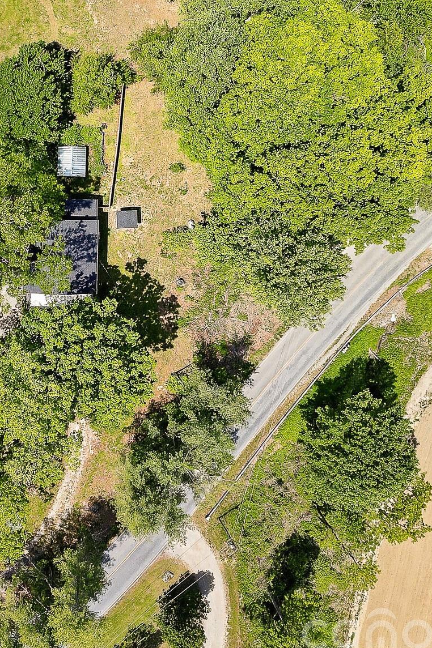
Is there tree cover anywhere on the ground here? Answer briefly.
Yes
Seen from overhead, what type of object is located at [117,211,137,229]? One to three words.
shed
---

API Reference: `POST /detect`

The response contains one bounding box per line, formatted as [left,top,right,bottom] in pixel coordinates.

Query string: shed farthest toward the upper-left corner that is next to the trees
[57,145,86,177]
